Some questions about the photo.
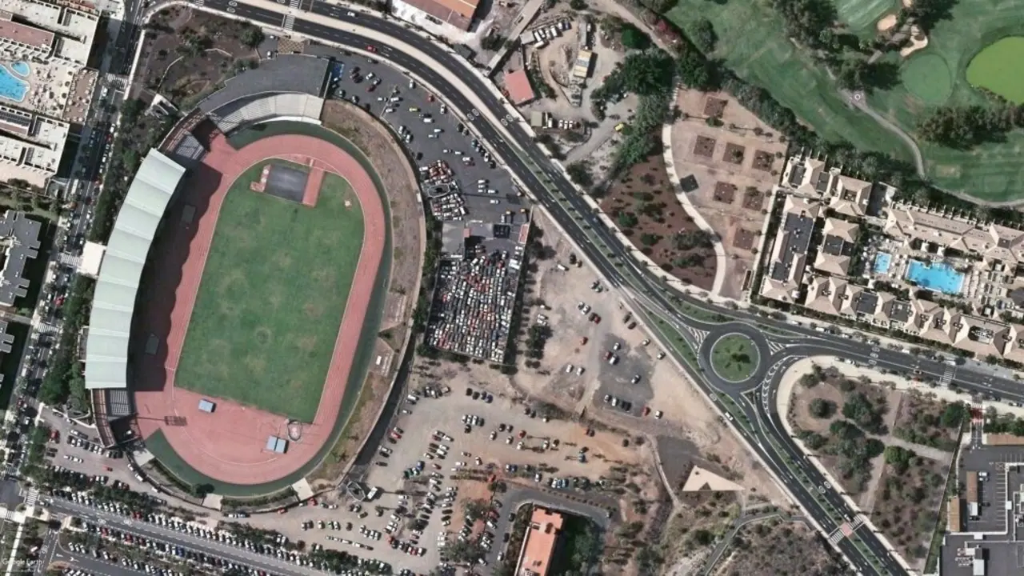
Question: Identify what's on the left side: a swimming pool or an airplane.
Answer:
swimming pool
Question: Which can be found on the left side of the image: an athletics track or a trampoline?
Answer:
athletics track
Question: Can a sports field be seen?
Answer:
Yes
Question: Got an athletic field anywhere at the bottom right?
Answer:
No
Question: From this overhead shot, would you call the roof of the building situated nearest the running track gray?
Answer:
Yes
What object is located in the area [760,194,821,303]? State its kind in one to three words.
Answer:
house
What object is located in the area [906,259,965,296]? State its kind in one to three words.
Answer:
swimming pool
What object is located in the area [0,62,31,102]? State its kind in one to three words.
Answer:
swimming pool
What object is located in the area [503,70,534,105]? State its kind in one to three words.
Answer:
shed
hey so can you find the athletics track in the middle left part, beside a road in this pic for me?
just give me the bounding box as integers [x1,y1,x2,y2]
[134,129,385,484]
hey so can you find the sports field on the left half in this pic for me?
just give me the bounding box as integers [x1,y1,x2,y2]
[174,155,365,423]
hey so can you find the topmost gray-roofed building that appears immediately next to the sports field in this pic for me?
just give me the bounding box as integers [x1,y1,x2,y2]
[196,53,329,115]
